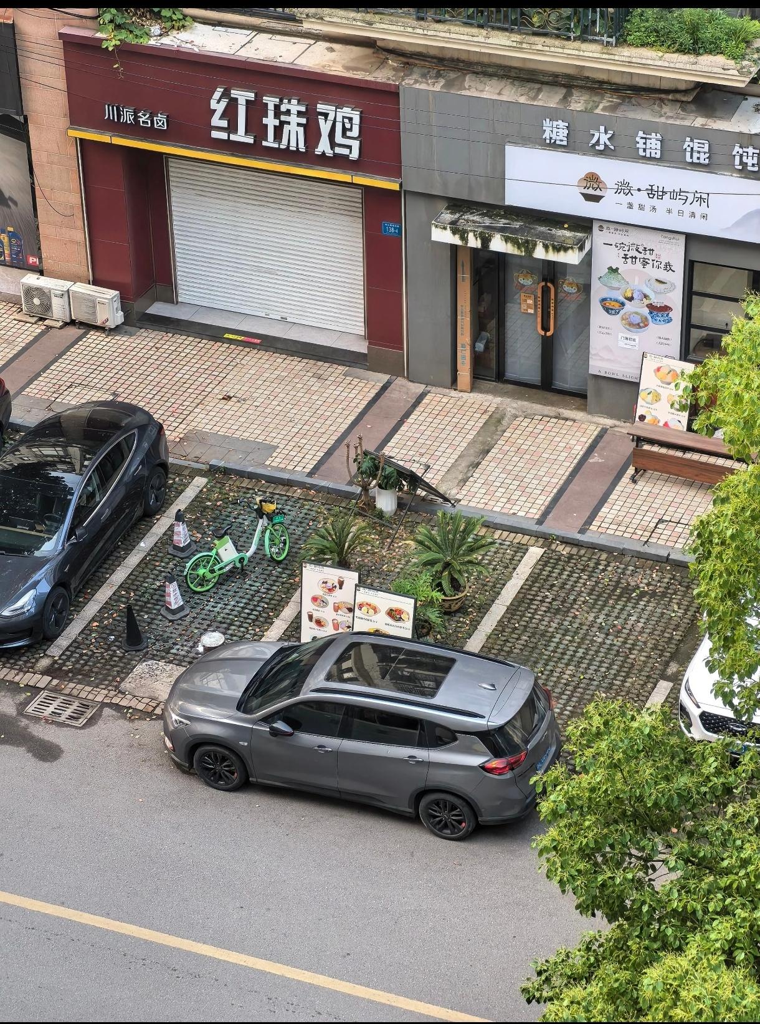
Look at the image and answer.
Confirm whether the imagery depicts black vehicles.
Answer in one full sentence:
Yes, a black vehicle appears in the view.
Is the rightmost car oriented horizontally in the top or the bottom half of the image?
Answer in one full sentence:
The rightmost car oriented horizontally sits in the bottom half of the picture.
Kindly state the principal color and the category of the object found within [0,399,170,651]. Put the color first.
black car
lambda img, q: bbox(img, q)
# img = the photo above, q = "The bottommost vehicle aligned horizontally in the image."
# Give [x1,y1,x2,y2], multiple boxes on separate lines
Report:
[164,627,561,839]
